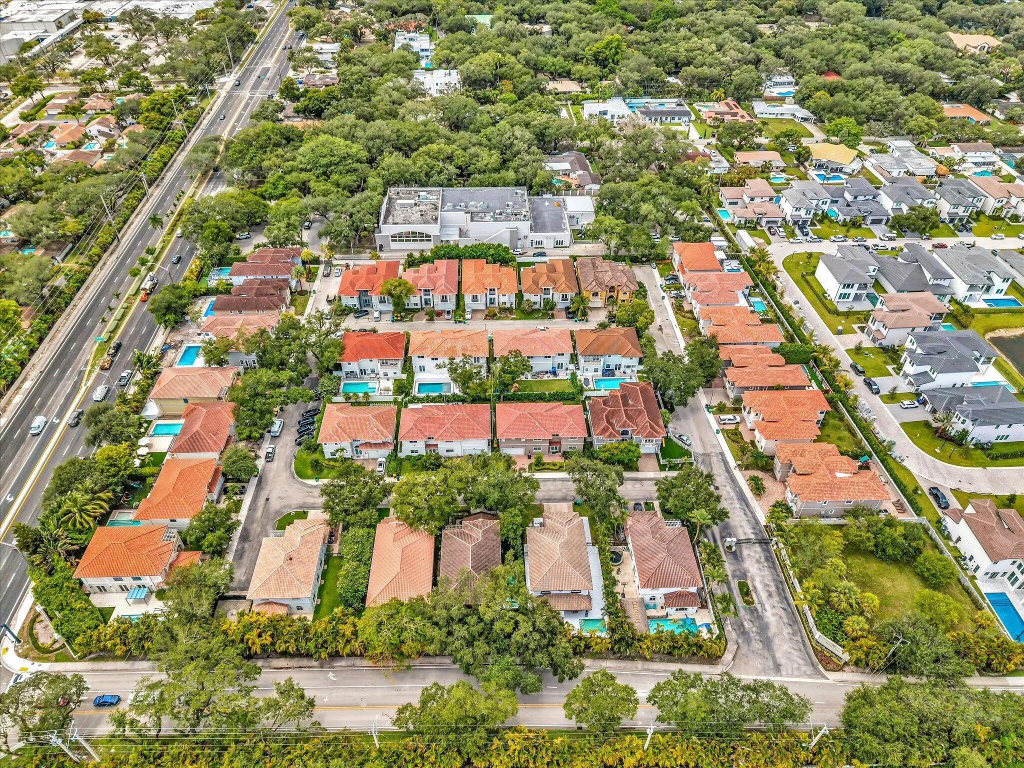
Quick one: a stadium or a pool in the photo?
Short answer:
pool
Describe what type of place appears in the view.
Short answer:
residential area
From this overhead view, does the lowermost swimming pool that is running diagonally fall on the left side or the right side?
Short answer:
right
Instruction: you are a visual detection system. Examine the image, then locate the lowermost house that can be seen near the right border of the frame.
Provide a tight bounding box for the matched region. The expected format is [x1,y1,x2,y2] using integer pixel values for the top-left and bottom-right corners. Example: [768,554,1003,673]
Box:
[943,499,1024,578]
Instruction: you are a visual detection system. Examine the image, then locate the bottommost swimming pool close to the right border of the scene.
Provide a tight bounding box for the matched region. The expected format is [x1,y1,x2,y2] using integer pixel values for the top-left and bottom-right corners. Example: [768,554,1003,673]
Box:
[983,590,1024,636]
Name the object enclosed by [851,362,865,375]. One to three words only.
vehicle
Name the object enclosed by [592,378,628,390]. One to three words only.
swimming pool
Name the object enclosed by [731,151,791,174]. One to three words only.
house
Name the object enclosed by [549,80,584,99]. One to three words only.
house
